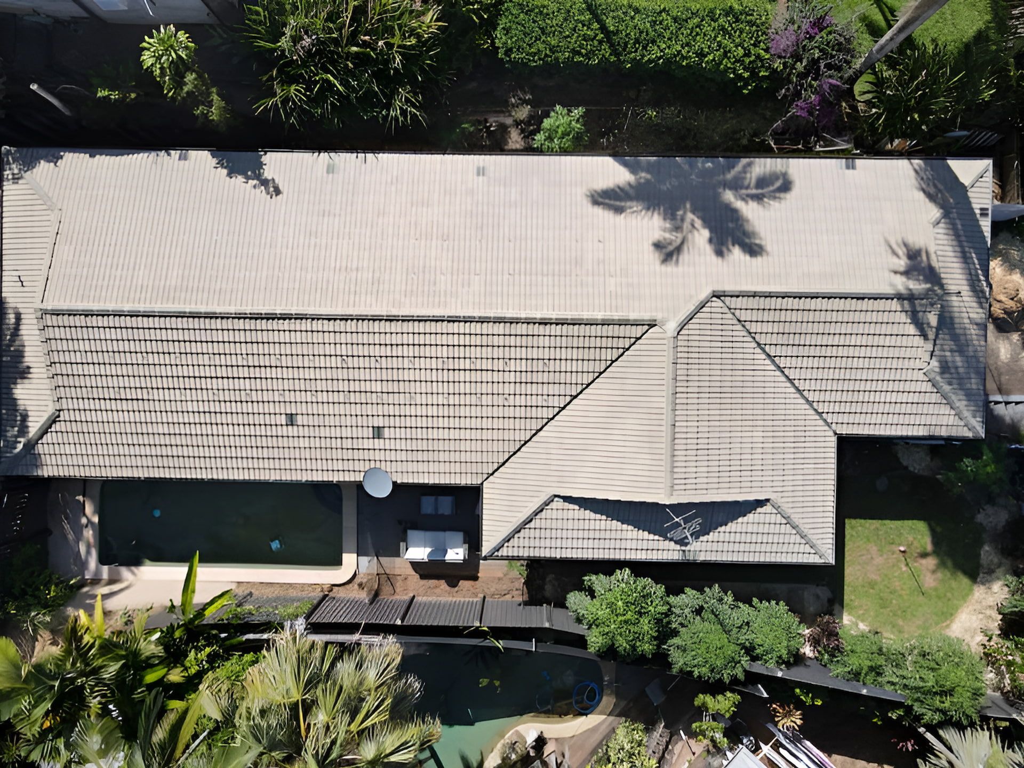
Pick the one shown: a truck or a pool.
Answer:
pool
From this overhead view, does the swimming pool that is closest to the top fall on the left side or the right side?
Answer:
left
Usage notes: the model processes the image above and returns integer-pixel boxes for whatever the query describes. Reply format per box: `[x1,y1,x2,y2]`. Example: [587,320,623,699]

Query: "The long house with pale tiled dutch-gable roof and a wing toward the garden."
[0,142,994,569]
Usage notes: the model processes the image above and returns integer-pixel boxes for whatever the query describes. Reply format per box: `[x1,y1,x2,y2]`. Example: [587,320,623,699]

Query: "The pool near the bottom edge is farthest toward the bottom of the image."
[217,627,619,768]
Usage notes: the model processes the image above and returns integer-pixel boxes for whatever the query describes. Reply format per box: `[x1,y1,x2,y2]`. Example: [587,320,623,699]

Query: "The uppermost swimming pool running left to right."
[84,482,357,584]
